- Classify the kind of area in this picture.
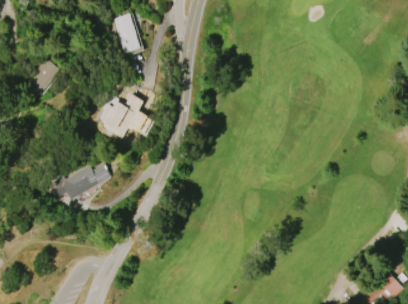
golf course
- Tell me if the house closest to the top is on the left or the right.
left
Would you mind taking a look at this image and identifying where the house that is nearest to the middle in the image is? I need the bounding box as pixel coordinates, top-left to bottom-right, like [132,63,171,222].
[100,94,155,138]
